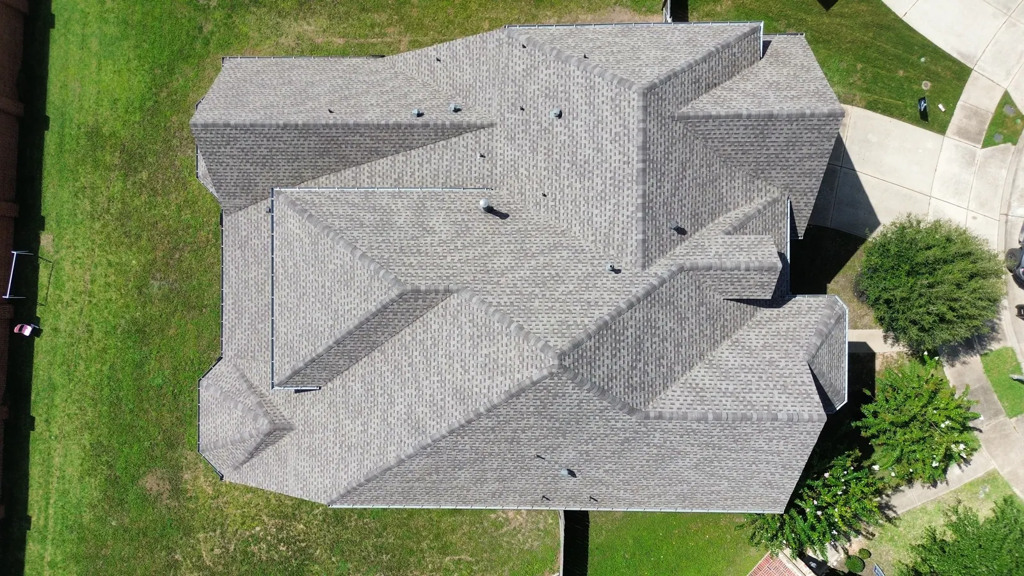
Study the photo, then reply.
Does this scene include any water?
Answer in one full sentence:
No, the scene doesn't show any water.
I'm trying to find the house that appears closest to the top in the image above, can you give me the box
[191,22,847,513]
